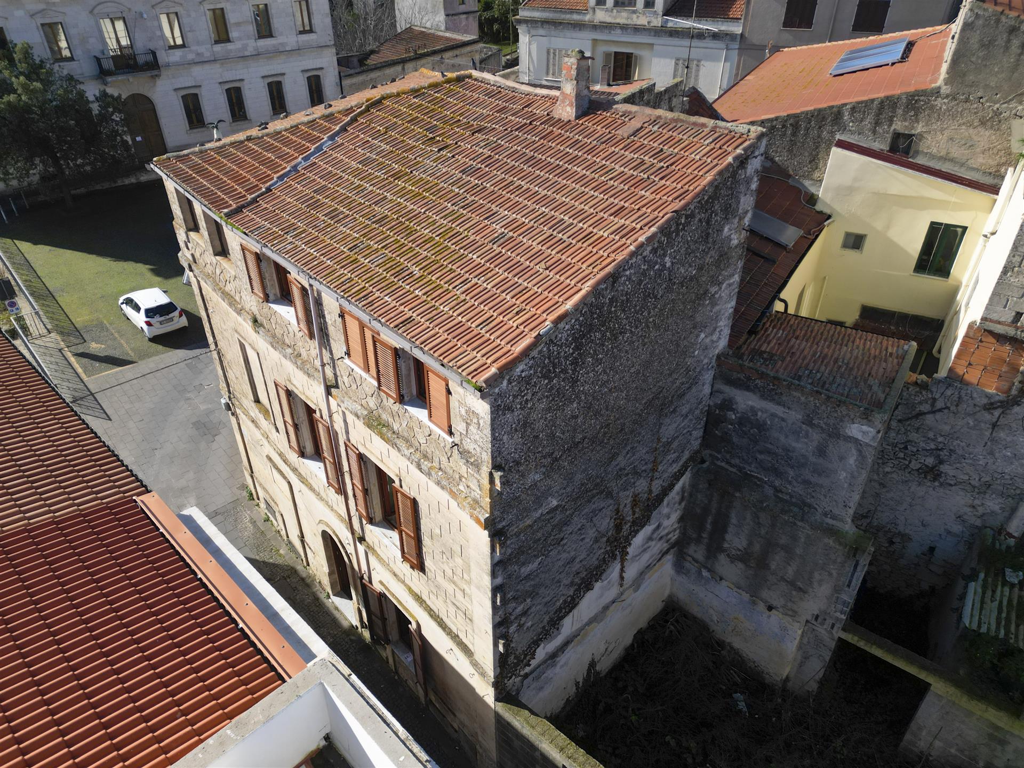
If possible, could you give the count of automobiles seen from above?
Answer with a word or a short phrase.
one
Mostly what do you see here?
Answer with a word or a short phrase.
buildings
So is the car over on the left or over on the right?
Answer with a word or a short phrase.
left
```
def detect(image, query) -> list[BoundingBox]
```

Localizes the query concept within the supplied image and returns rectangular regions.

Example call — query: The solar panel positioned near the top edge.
[829,36,916,78]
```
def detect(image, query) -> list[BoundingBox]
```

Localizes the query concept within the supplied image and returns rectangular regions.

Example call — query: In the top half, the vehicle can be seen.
[113,273,189,330]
